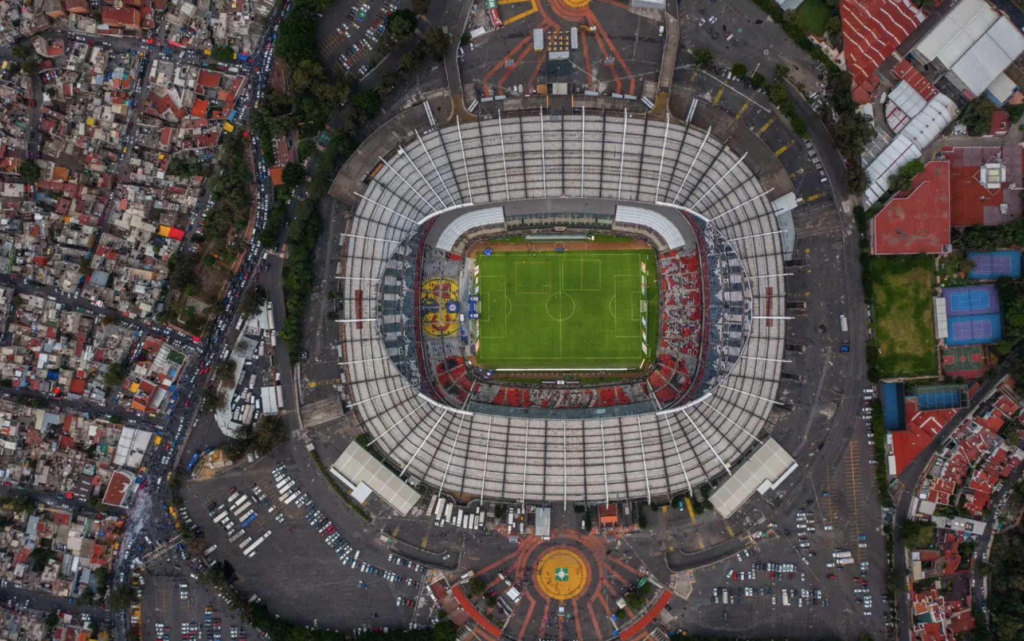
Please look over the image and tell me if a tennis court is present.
Yes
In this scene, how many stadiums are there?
1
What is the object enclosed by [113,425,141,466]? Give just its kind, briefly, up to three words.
building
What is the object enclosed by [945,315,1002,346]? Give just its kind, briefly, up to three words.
tennis court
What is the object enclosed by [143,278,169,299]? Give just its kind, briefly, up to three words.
house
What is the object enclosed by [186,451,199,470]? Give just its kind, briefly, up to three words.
vehicle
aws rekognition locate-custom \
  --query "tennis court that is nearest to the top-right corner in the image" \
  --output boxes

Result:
[967,251,1021,279]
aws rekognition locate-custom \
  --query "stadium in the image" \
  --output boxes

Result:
[330,92,795,511]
